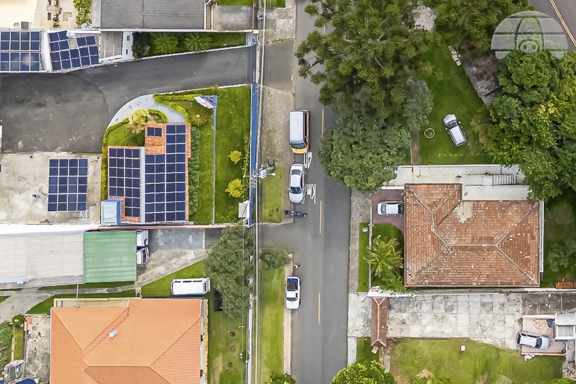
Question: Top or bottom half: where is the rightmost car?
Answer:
bottom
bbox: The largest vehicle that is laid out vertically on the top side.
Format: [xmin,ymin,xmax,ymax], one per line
[291,111,309,151]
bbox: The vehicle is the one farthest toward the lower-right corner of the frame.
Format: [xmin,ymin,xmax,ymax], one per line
[517,331,550,350]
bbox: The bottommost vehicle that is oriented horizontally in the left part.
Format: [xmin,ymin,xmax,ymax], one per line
[170,278,210,296]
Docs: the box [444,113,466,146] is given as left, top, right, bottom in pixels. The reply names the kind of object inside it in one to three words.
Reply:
car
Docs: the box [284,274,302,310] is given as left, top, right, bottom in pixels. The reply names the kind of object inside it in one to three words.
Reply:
vehicle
